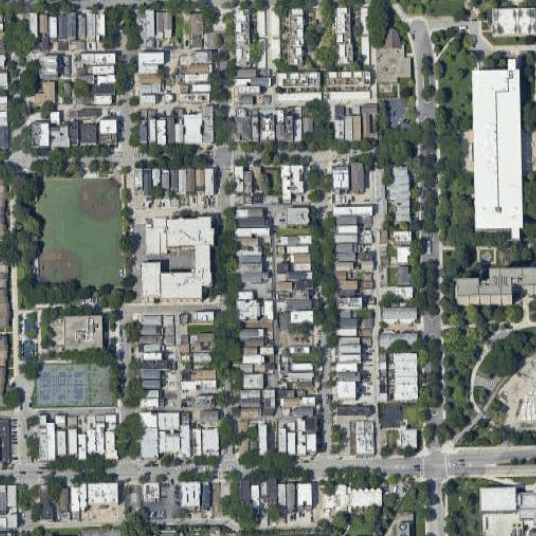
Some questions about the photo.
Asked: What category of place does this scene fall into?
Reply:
residential area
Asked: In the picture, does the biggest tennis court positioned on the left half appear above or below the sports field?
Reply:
below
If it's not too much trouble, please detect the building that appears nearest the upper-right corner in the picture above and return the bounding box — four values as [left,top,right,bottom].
[491,8,536,38]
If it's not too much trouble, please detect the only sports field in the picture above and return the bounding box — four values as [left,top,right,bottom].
[39,178,121,287]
